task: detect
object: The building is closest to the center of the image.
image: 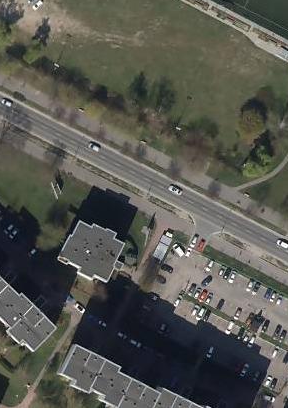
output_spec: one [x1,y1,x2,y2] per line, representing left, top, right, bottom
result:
[58,221,125,283]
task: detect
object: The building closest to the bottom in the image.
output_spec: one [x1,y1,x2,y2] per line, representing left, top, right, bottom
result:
[56,345,202,408]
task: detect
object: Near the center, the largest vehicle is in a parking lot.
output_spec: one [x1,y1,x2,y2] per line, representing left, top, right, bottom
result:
[156,232,172,260]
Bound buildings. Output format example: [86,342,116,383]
[0,277,56,353]
[58,221,125,283]
[56,345,202,408]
